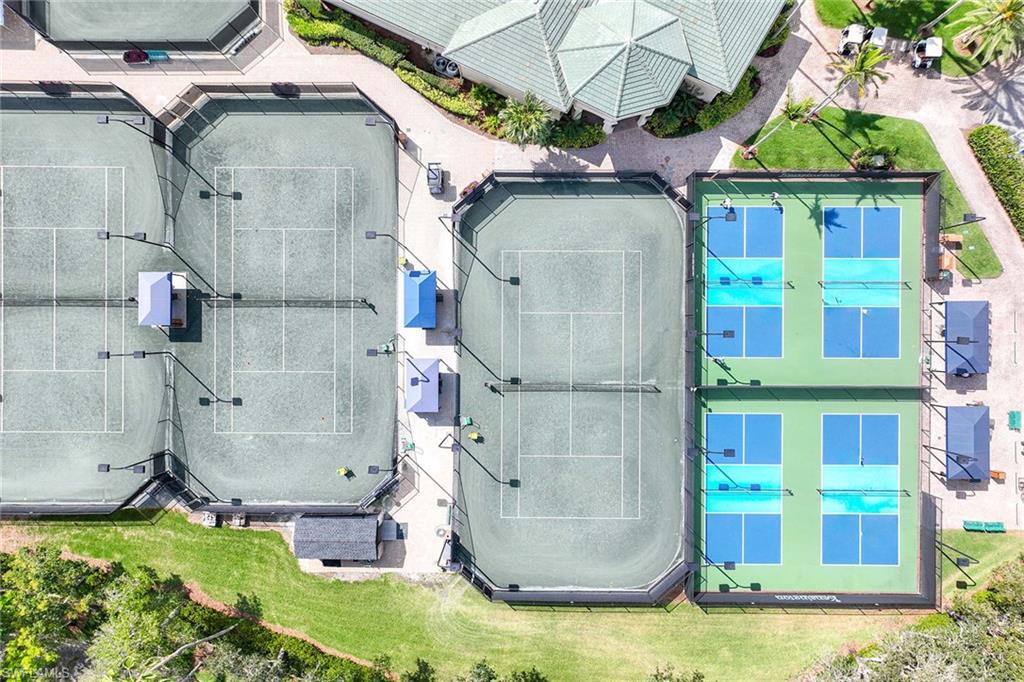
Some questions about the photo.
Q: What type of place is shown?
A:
sports ground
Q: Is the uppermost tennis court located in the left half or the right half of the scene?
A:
left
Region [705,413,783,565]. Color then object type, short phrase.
blue sports court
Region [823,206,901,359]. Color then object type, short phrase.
blue sports court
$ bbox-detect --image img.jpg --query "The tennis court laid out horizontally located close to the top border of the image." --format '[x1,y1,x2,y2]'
[26,0,264,57]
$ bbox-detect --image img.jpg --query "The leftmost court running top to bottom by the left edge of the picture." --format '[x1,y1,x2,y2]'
[0,92,173,506]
